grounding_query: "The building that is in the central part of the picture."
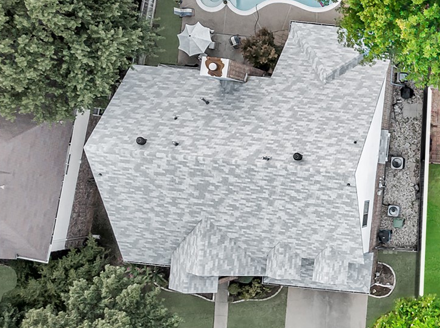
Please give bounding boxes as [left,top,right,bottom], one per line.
[85,20,392,295]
